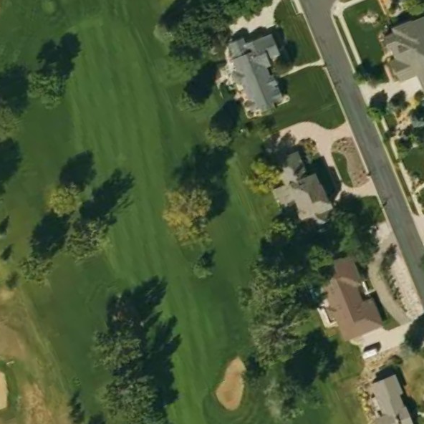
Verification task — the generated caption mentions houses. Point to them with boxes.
[224,30,290,114]
[371,377,422,424]
[322,261,386,335]
[380,18,424,86]
[268,150,337,223]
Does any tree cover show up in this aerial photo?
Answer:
Yes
